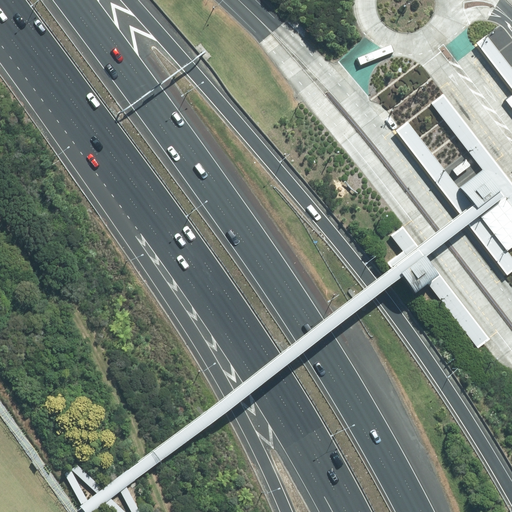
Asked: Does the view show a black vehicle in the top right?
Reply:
No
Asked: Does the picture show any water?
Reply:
No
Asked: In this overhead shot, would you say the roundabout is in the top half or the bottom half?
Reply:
top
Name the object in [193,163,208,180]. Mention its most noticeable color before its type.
white vehicle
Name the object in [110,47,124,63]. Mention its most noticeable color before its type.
red car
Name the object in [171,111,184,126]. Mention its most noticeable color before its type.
white vehicle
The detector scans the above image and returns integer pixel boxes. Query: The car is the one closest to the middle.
[226,230,240,245]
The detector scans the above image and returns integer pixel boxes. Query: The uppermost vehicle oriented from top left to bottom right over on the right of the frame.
[305,204,322,222]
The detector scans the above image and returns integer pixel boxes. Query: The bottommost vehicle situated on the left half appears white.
[176,255,190,270]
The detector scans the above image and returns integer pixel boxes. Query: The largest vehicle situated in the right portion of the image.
[356,46,393,66]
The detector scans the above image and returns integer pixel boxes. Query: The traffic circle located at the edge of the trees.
[357,0,452,52]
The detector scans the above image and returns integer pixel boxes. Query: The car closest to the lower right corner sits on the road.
[369,428,382,444]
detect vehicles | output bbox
[226,230,240,245]
[174,232,187,248]
[330,452,344,469]
[326,469,340,484]
[32,18,46,34]
[356,46,393,66]
[369,428,382,444]
[110,47,124,63]
[313,361,326,377]
[305,204,322,222]
[0,9,8,23]
[193,163,208,180]
[166,146,180,161]
[182,226,195,242]
[86,153,99,167]
[171,111,184,126]
[90,136,104,150]
[12,13,26,29]
[86,92,100,108]
[104,63,118,79]
[176,255,190,270]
